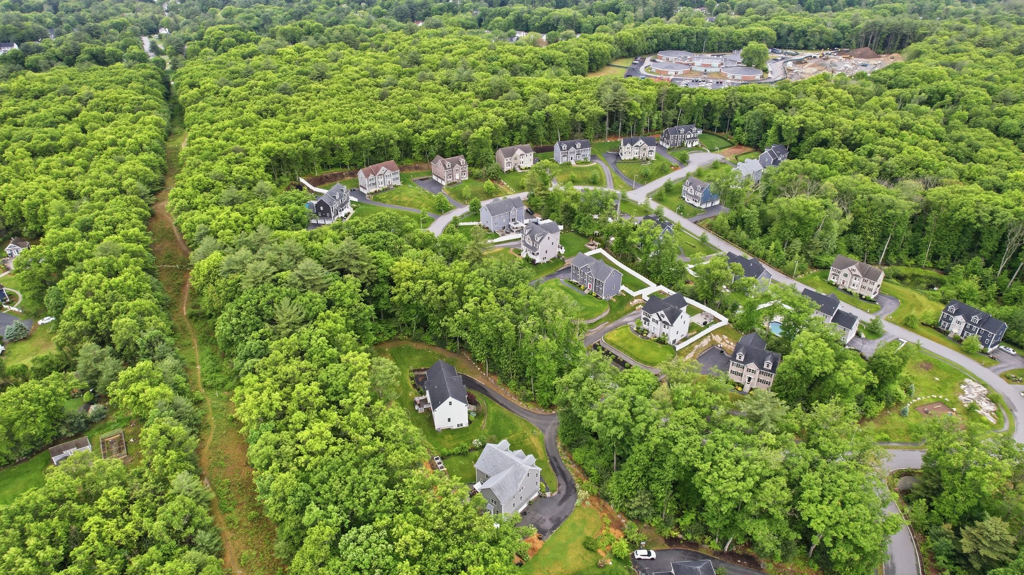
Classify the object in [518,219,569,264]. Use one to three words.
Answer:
house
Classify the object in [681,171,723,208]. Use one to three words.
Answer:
house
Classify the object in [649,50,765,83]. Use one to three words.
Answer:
building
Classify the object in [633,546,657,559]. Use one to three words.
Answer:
vehicle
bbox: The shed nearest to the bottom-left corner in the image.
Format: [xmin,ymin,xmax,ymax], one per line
[44,429,91,465]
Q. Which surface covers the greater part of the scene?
trees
